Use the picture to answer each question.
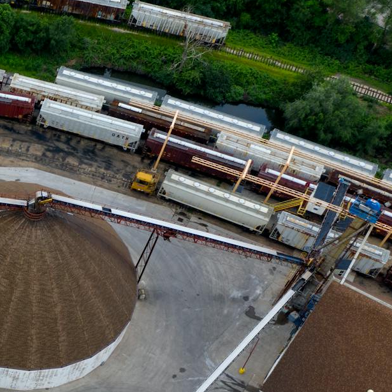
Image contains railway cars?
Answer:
Yes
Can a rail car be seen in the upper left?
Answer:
Yes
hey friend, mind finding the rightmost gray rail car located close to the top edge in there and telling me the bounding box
[125,1,227,47]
